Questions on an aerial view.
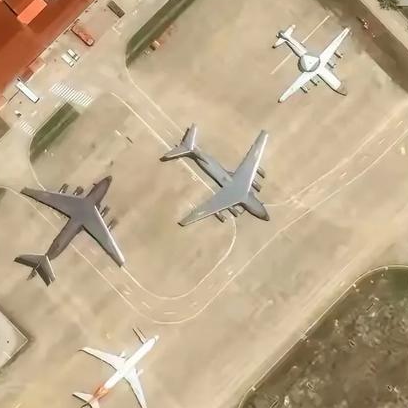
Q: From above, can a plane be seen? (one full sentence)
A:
Yes, a plane can be made out from above.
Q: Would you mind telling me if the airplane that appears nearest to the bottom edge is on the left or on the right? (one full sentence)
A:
The airplane that appears nearest to the bottom edge appears in the left half of the scene.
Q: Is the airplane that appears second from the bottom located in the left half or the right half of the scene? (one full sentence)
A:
The airplane that appears second from the bottom appears in the left half of the scene.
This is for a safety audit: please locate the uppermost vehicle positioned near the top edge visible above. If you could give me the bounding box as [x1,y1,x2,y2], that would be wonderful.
[107,0,125,17]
